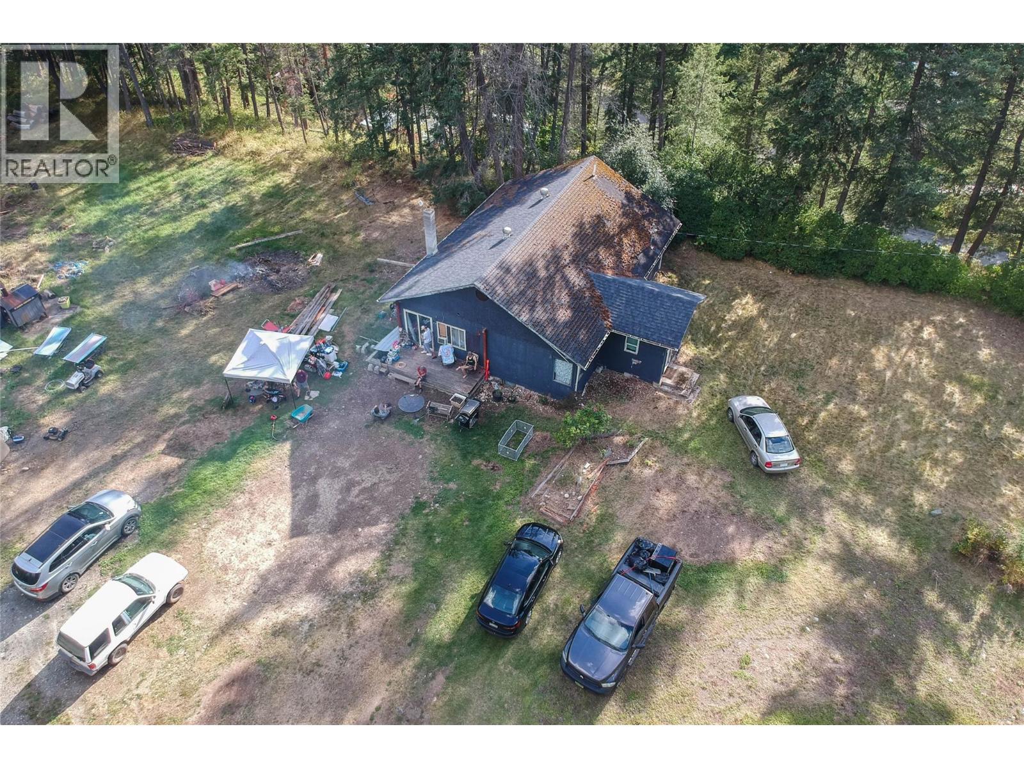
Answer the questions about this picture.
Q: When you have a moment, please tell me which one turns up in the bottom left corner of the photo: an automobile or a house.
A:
automobile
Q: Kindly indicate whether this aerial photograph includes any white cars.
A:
Yes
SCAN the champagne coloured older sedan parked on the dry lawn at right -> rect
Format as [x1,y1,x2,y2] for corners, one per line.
[727,397,804,478]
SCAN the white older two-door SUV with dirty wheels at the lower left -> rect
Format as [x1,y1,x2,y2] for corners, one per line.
[46,558,189,691]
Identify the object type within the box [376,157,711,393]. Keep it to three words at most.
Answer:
house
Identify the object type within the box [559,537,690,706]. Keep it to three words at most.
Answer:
truck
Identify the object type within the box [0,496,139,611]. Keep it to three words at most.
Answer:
car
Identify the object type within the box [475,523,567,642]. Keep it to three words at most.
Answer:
car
